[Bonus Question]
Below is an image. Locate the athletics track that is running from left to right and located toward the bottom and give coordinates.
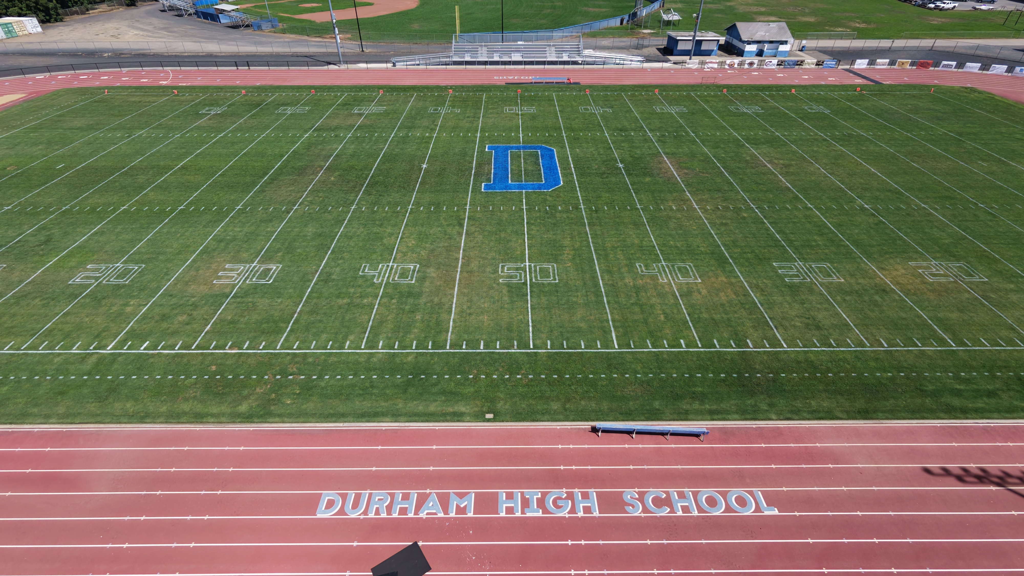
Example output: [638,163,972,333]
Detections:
[0,424,1024,576]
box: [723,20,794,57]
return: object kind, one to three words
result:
building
